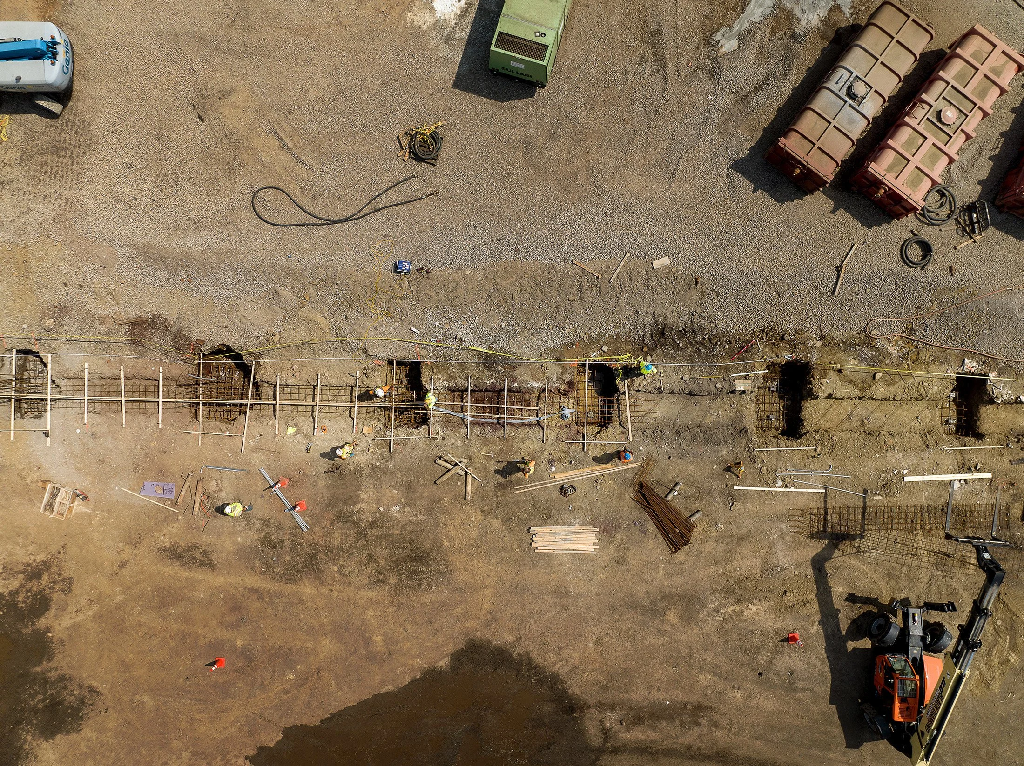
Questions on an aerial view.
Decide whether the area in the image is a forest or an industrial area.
industrial area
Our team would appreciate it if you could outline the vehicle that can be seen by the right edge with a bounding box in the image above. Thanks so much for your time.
[860,482,1022,766]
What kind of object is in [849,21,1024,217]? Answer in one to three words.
storage tank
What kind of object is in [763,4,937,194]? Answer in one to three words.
storage tank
